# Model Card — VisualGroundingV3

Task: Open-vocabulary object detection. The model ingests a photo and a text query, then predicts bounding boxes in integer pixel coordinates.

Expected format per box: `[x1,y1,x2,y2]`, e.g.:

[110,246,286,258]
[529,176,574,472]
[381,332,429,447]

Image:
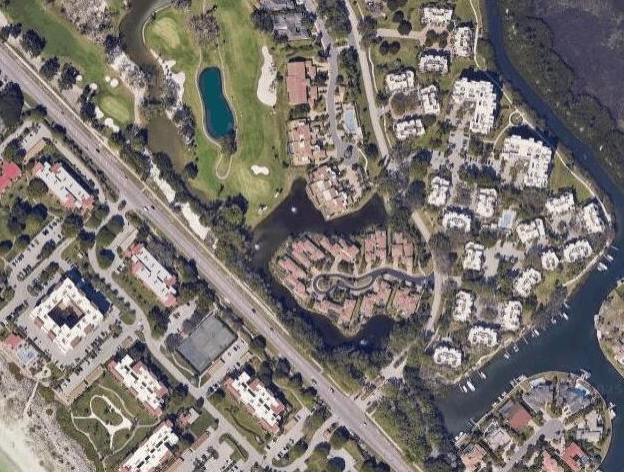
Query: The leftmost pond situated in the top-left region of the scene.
[119,0,187,170]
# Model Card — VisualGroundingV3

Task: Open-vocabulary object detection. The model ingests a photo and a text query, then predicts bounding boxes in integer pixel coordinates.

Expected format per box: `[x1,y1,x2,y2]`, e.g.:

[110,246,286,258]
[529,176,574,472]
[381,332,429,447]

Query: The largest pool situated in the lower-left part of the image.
[15,344,38,363]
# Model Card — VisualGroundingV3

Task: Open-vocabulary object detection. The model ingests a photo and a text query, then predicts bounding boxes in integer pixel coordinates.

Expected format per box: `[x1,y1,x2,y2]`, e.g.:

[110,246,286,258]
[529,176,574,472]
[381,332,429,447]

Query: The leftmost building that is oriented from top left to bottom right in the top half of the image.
[26,155,97,216]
